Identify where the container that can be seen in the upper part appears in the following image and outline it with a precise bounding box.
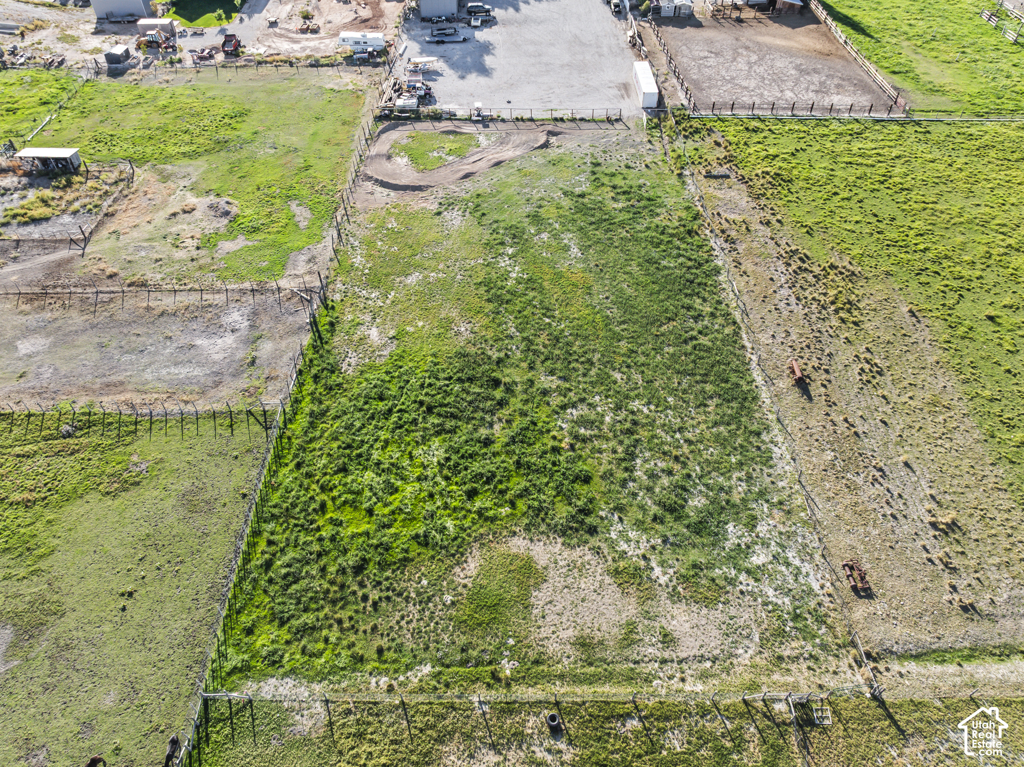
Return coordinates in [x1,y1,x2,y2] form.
[633,61,661,108]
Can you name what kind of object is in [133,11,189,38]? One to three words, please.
shed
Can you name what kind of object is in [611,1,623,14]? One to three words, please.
vehicle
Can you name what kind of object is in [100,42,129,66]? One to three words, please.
shed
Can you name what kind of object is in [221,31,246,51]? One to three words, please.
vehicle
